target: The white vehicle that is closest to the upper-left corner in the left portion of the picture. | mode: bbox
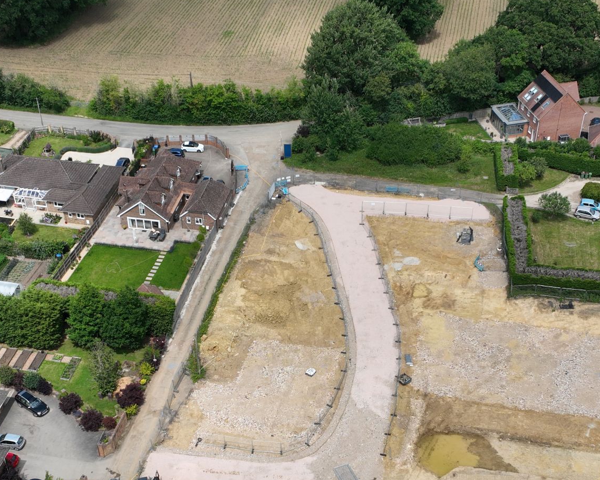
[178,137,205,154]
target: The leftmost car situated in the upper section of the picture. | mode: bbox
[116,158,133,175]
